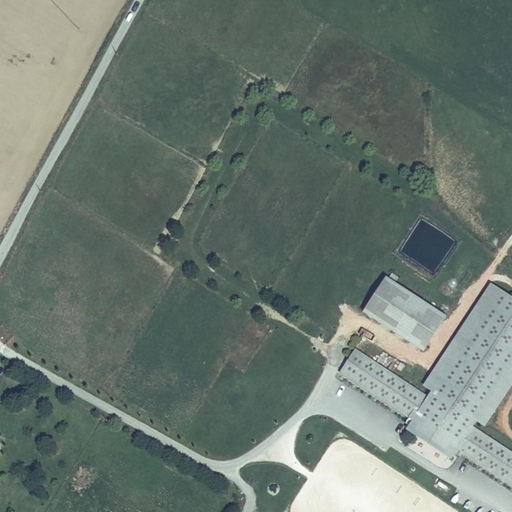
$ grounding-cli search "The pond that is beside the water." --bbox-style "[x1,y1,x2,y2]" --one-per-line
[393,212,464,282]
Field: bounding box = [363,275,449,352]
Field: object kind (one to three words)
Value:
shed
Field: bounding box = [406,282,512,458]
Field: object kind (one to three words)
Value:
building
